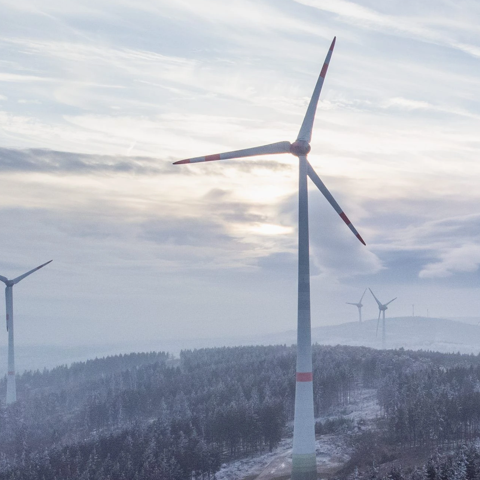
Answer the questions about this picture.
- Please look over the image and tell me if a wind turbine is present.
Yes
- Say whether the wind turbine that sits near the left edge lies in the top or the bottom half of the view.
bottom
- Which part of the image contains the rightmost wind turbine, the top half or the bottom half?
bottom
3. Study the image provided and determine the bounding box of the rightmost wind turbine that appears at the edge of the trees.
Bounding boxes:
[371,291,396,357]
